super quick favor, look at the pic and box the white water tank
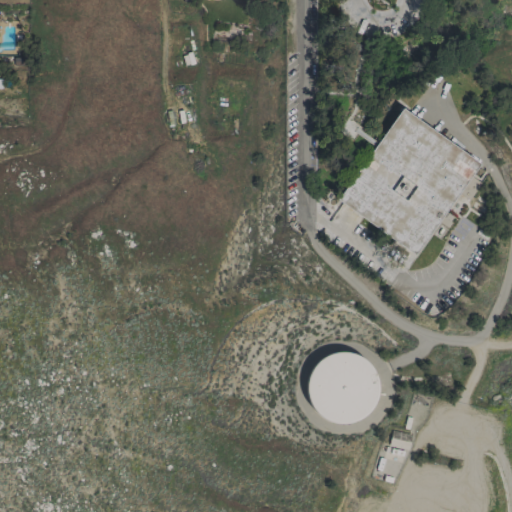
[308,352,386,424]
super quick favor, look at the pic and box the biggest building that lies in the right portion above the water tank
[342,108,482,256]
